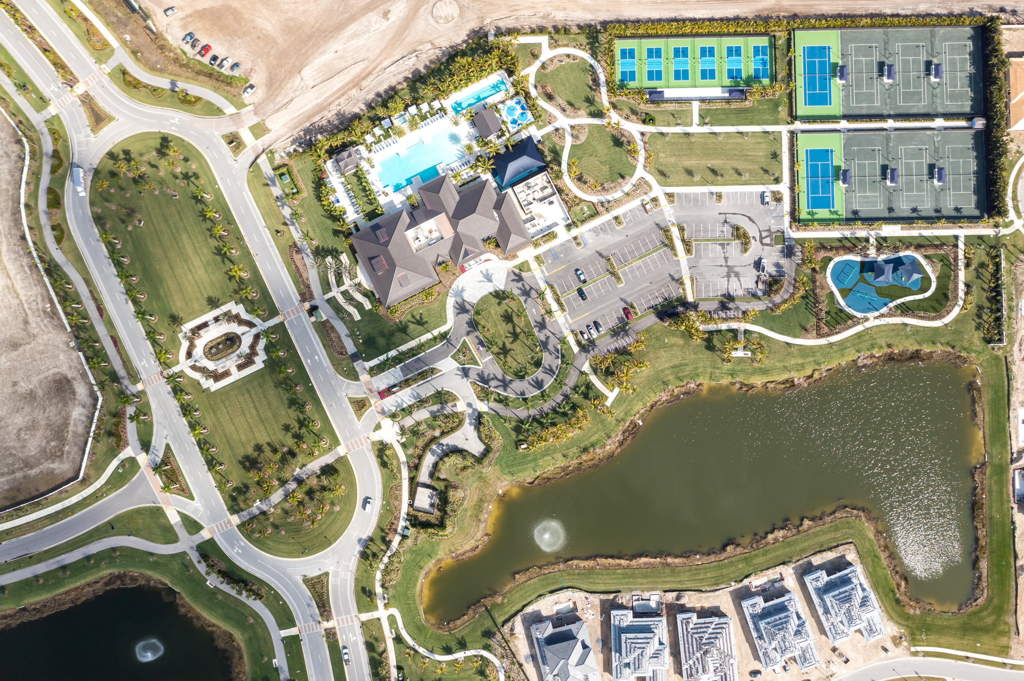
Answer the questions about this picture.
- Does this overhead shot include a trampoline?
No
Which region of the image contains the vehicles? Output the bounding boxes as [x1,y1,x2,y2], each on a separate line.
[623,307,633,320]
[243,83,257,97]
[580,330,588,340]
[364,499,373,514]
[183,32,195,44]
[577,288,587,301]
[763,192,770,205]
[594,322,604,334]
[230,62,242,73]
[209,54,219,67]
[588,326,597,338]
[575,269,587,284]
[784,661,791,674]
[197,44,212,57]
[217,57,232,71]
[191,38,201,50]
[165,7,177,16]
[642,201,653,215]
[774,667,782,679]
[73,164,88,194]
[761,259,767,274]
[344,649,351,666]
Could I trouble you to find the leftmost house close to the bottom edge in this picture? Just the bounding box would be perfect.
[530,619,600,681]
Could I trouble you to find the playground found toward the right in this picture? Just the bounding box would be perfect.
[826,250,937,318]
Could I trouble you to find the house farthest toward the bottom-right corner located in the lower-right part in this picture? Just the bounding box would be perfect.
[804,567,886,646]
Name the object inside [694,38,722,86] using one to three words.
sports court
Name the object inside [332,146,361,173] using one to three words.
gazebo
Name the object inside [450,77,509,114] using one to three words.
swimming pool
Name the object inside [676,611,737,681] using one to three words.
house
